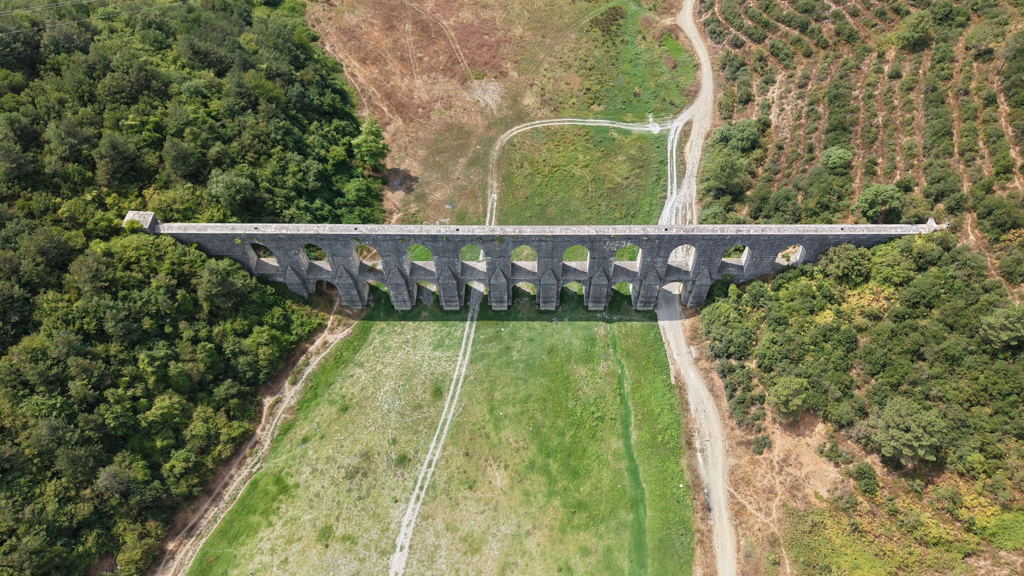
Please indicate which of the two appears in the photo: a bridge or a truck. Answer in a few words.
bridge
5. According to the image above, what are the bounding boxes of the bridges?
[158,224,927,310]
